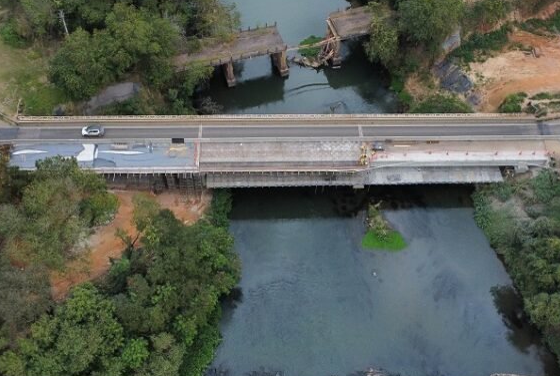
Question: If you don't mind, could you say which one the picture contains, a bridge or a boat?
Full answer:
The one in the frame is a bridge.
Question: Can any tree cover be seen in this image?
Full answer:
Yes, the picture does contain tree cover.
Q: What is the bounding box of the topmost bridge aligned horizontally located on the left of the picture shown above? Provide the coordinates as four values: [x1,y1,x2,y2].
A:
[148,20,287,86]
